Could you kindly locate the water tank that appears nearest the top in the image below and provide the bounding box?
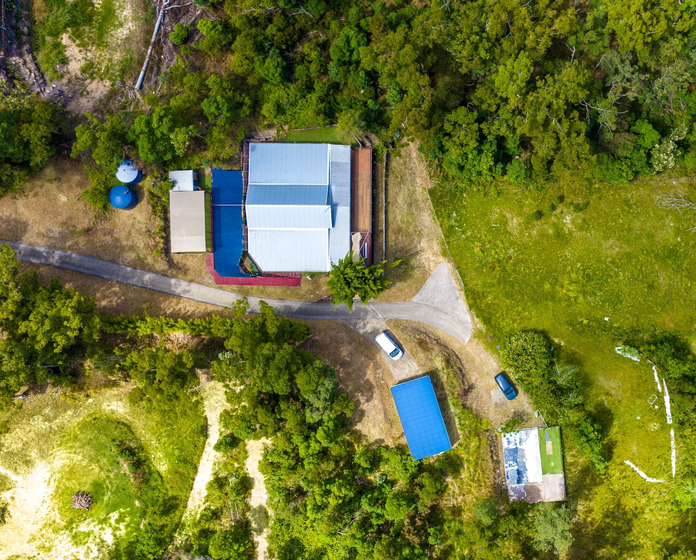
[116,160,147,187]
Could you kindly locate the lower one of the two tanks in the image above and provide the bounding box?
[109,186,140,210]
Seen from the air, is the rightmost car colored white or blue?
blue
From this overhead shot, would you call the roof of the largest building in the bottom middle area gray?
No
